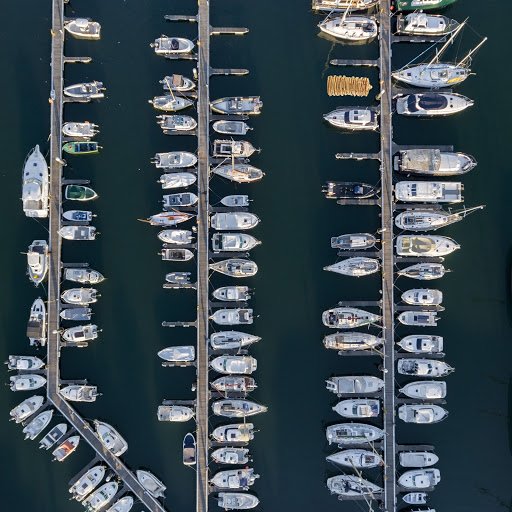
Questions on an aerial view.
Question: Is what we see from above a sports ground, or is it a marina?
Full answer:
The picture captures a marina.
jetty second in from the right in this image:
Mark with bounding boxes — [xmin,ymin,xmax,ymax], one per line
[162,0,250,512]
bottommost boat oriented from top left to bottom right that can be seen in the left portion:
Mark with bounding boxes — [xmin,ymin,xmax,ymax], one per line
[136,469,166,497]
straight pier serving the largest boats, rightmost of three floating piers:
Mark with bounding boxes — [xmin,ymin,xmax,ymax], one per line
[329,0,454,512]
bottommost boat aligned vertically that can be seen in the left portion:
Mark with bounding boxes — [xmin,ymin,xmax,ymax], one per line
[182,427,198,465]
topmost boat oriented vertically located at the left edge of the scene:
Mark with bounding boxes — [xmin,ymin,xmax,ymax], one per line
[22,144,52,218]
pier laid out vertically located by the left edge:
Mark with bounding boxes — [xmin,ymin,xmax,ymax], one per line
[18,0,168,512]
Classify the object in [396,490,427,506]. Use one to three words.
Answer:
boat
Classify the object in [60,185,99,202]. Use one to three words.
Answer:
boat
